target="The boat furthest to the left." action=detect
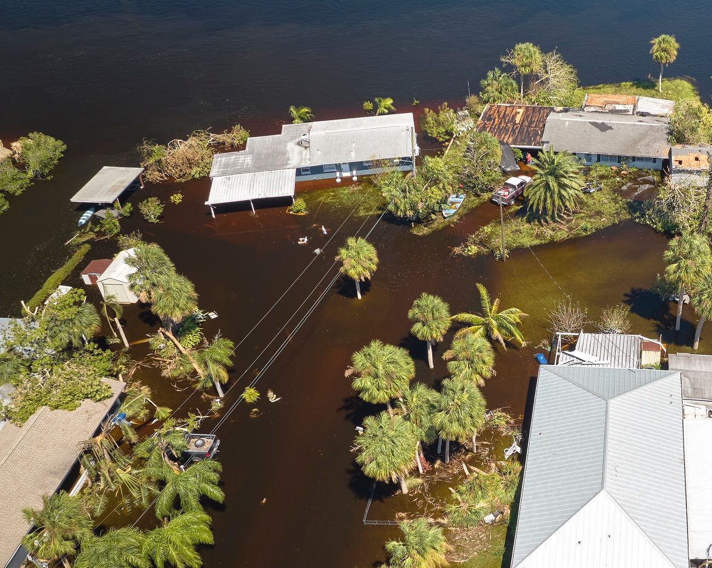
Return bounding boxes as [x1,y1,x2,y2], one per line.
[77,207,95,226]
